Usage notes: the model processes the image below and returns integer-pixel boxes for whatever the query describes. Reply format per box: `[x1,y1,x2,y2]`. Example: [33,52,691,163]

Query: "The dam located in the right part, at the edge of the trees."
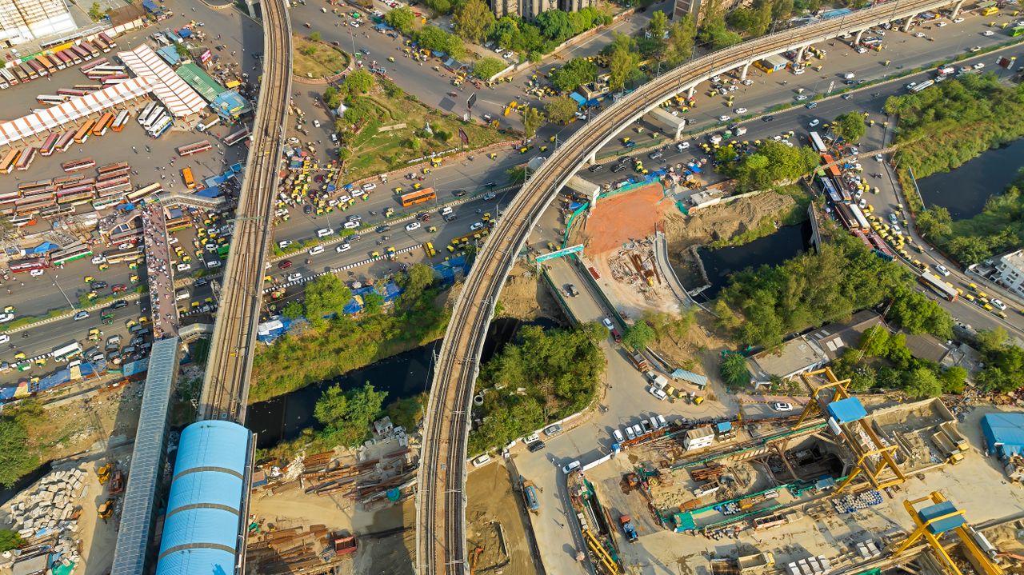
[690,247,716,299]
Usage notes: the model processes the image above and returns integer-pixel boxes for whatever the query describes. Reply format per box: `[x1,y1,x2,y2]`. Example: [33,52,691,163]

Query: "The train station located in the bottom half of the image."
[152,419,267,575]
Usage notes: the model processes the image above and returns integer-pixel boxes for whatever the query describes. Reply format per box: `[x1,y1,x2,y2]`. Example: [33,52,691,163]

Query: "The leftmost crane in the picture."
[789,365,912,495]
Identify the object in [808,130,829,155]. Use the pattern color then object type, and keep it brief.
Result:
white bus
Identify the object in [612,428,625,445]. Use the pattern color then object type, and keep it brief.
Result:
white vehicle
